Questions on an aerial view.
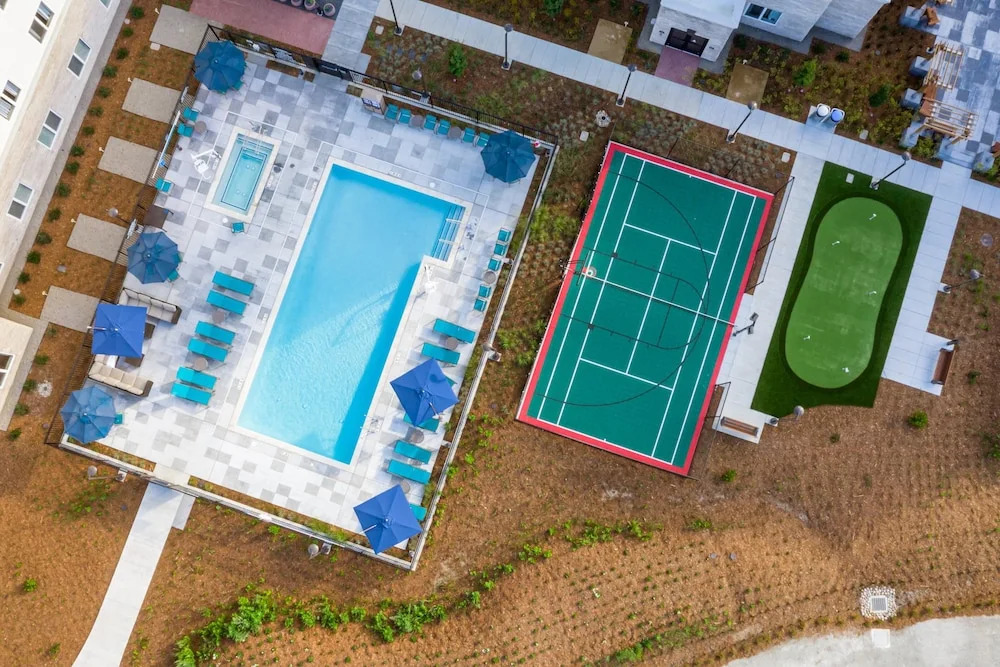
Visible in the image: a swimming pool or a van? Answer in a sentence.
Of the two, only a swimming pool appears.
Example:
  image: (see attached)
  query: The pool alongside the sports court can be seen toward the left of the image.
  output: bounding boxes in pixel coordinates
[225,156,476,478]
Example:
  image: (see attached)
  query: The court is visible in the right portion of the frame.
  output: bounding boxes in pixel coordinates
[518,142,774,478]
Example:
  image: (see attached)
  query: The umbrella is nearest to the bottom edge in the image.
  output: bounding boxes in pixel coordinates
[354,483,423,555]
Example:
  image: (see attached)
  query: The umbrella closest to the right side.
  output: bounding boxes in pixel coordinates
[479,129,536,184]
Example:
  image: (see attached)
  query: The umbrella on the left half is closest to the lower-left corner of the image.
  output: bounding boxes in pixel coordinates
[60,385,118,444]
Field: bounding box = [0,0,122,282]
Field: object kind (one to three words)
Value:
building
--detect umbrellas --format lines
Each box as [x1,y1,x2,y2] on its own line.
[479,129,536,184]
[354,483,423,555]
[85,306,148,357]
[125,229,182,285]
[390,357,459,431]
[193,40,246,92]
[60,385,118,444]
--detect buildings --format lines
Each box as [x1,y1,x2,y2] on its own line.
[0,0,122,282]
[650,0,892,62]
